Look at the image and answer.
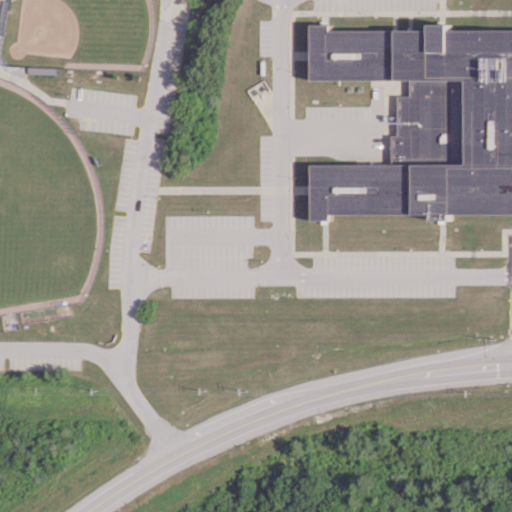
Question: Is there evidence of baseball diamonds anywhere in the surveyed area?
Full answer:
Yes, looking at the shot, I can spot a baseball diamond.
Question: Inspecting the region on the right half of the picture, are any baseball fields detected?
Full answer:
No, the scene shows no baseball field on the right half of the picture.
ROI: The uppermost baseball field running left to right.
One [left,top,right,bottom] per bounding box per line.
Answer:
[10,0,155,70]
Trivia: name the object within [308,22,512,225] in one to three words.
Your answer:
building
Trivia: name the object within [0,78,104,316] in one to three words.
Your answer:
baseball field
